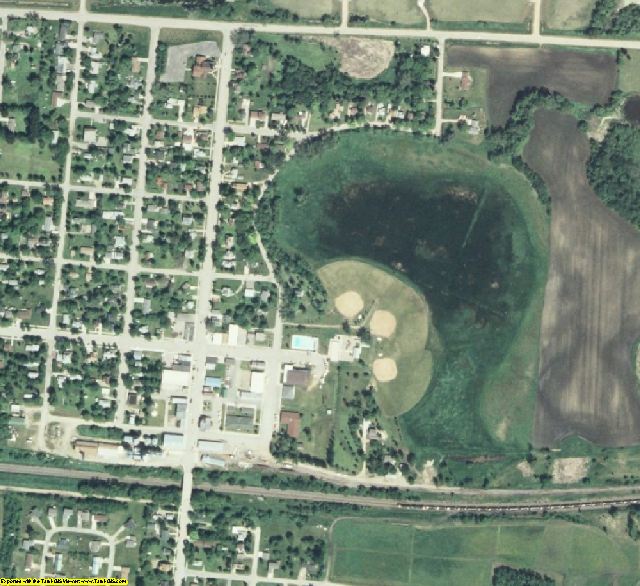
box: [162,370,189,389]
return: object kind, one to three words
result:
building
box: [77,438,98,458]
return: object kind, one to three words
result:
building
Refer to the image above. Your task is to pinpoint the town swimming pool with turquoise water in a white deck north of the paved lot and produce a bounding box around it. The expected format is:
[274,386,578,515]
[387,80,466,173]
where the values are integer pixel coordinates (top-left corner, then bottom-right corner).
[291,335,318,351]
